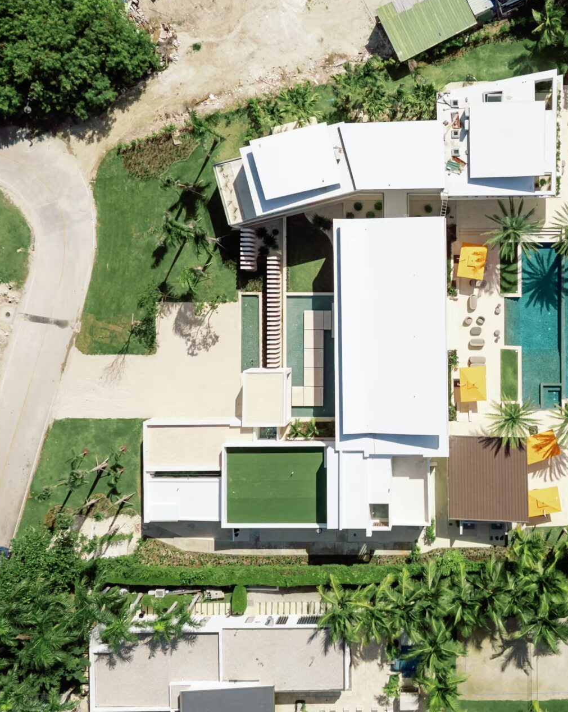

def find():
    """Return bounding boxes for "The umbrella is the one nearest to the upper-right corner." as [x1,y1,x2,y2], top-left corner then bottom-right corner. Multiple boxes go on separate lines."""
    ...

[454,244,488,280]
